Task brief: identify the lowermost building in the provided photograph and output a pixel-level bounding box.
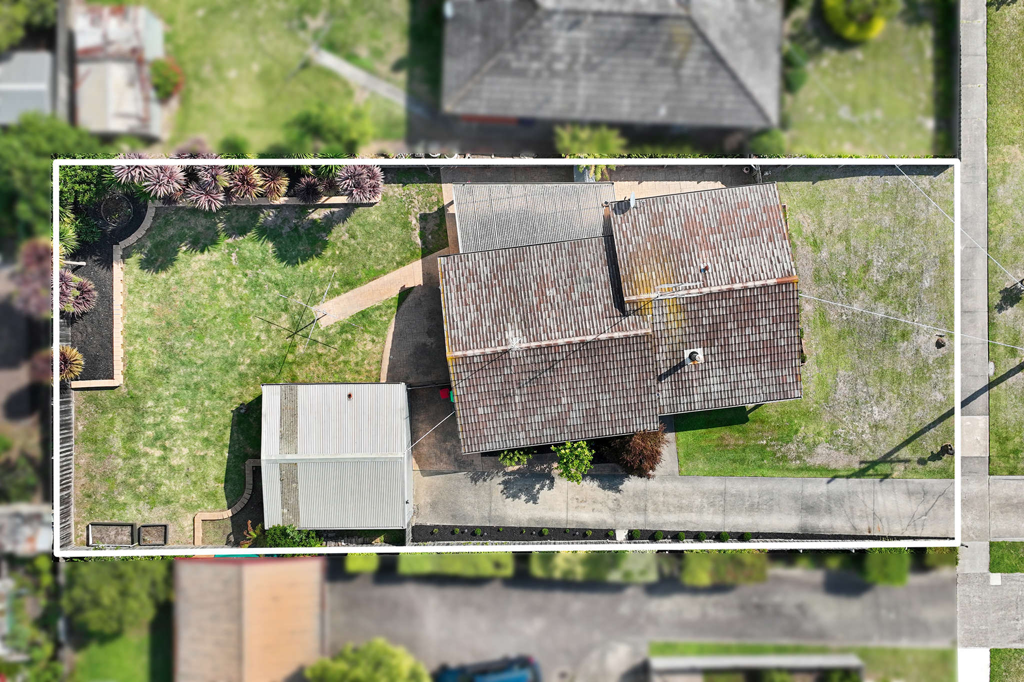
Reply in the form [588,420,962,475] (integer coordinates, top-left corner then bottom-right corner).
[174,553,336,682]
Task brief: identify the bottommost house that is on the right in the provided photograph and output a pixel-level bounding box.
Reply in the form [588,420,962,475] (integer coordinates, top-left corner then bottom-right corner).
[439,180,806,456]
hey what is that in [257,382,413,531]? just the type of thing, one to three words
building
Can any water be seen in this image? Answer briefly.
No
